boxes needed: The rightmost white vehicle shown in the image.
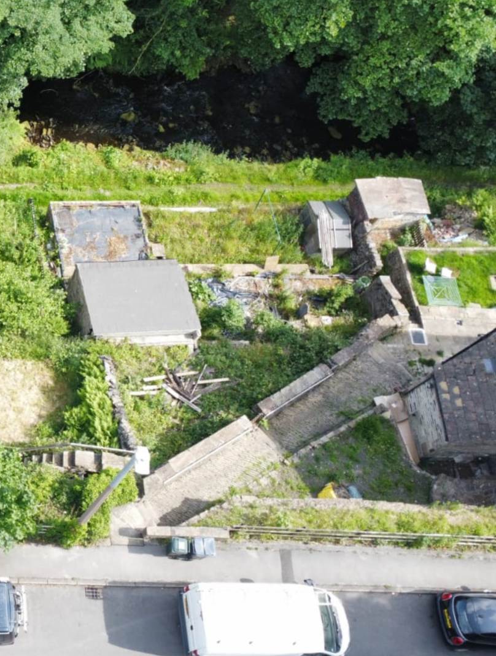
[181,581,351,656]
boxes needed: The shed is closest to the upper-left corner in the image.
[46,199,151,291]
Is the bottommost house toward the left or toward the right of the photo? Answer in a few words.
right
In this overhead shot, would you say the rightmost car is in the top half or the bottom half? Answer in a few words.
bottom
